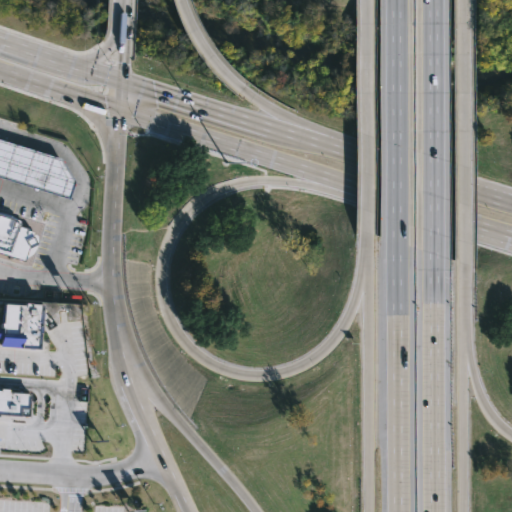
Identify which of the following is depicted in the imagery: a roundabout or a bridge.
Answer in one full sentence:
I can see a bridge in this picture.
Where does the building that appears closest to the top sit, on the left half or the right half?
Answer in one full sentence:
The building that appears closest to the top is on the left side of the image.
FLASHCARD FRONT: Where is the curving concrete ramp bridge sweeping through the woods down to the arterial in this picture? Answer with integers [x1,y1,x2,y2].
[175,0,330,128]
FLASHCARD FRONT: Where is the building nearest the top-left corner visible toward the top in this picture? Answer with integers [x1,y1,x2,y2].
[0,139,75,198]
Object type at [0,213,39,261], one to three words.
building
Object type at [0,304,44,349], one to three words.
building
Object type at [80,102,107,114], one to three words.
vehicle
